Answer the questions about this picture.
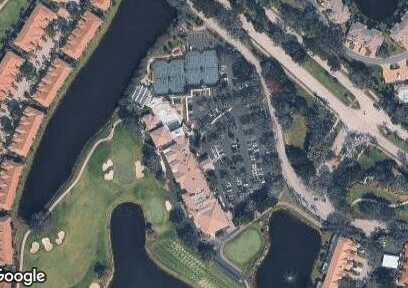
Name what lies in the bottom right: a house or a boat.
house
